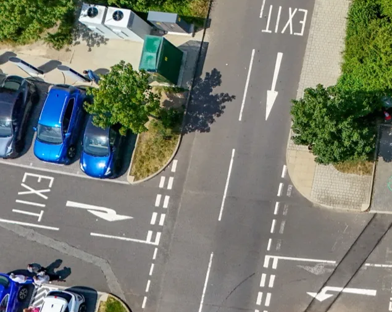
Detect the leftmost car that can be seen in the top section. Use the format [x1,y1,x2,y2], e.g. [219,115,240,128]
[0,79,46,158]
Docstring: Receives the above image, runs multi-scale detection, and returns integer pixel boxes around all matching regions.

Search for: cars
[34,89,90,163]
[0,79,46,158]
[38,292,87,312]
[0,272,31,312]
[79,108,134,178]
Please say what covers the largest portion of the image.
paved ground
